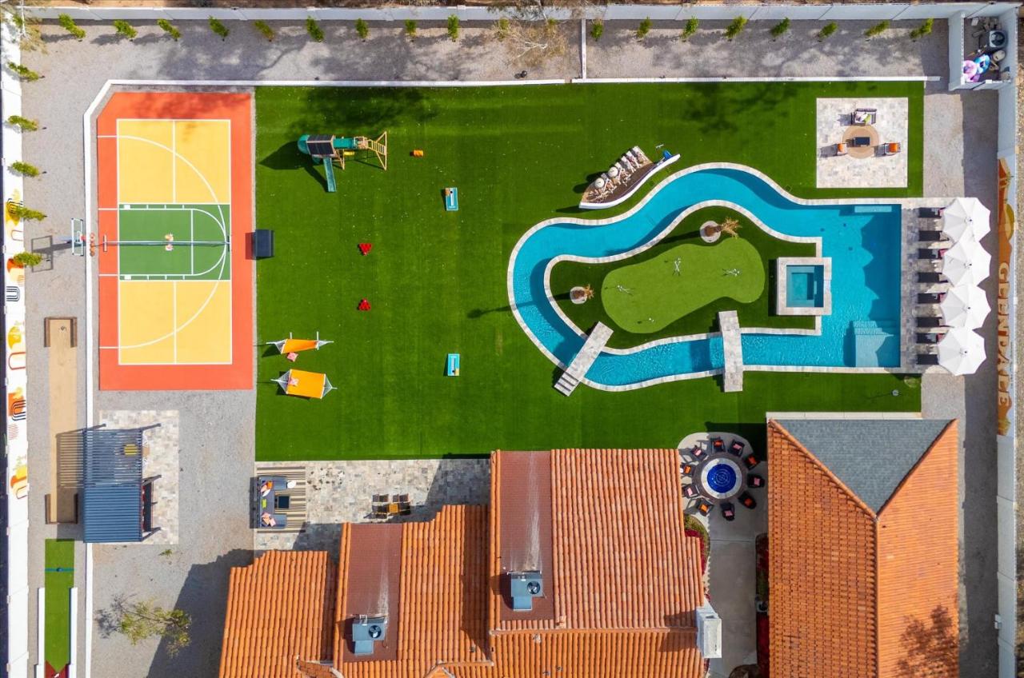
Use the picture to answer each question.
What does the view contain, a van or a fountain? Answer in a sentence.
This aerial view contains a fountain.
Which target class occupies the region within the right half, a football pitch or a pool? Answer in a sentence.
You can see a pool within the right half.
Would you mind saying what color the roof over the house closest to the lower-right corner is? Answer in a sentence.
The roof over the house closest to the lower-right corner appears orange.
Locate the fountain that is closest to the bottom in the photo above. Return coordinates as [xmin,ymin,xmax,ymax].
[703,458,743,498]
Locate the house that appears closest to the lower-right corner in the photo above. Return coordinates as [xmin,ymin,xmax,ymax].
[766,420,961,678]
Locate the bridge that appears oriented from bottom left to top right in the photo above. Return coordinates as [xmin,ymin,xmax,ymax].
[556,322,613,395]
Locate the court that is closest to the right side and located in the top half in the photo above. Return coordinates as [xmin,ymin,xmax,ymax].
[97,92,253,391]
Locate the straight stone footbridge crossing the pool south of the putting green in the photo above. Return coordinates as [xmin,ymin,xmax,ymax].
[717,311,742,391]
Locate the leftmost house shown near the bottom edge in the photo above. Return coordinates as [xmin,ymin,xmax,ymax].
[219,449,722,678]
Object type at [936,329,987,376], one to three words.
umbrella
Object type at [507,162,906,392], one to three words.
swimming pool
